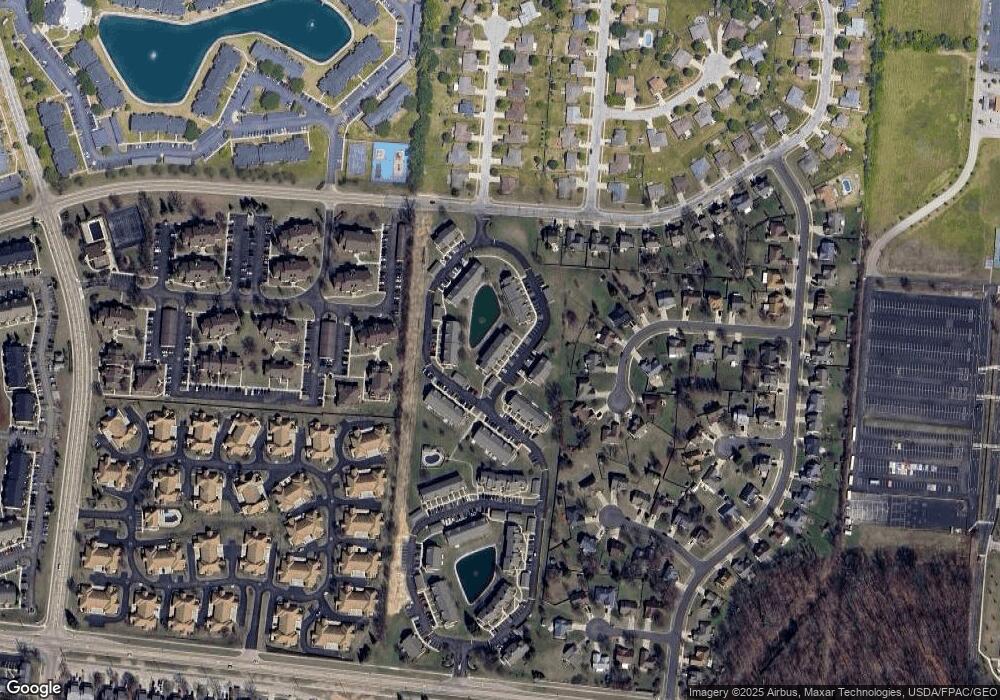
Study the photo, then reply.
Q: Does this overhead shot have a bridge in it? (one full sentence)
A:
No, no bridge is visible in the view.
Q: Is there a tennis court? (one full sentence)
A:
Yes, looking at the shot, I can spot a tennis court.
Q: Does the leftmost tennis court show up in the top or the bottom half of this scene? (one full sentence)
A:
The top half of the photo is where the leftmost tennis court is.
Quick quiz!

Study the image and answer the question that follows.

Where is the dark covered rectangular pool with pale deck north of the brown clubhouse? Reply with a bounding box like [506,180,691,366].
[85,218,107,243]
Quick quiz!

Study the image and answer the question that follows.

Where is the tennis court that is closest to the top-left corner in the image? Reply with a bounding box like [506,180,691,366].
[107,209,145,249]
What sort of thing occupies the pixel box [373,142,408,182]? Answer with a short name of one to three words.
sports court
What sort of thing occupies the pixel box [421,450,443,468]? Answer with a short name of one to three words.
swimming pool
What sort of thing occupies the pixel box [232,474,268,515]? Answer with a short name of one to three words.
building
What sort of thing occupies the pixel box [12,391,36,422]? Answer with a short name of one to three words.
house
